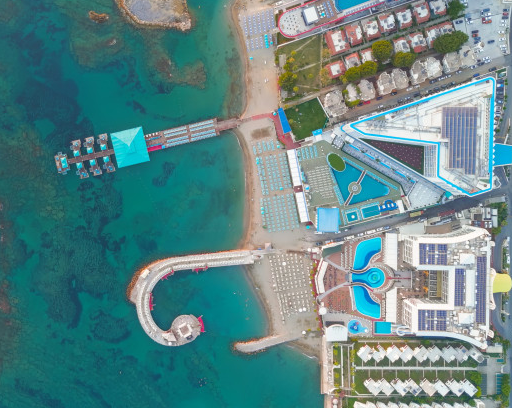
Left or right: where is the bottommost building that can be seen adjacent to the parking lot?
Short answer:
right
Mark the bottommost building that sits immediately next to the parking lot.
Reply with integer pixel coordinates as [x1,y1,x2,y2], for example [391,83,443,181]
[331,76,512,210]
